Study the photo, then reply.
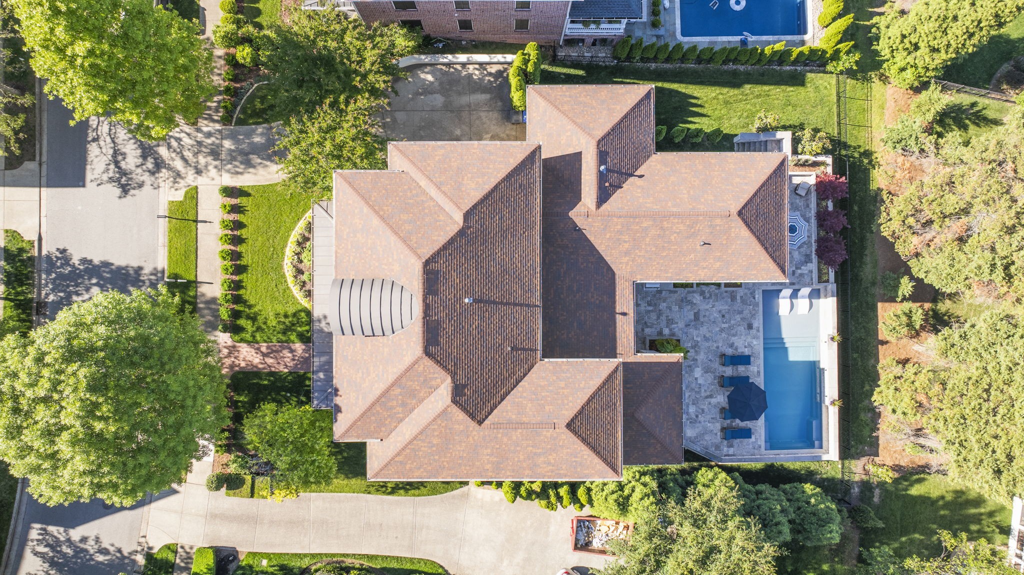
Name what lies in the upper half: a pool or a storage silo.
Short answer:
pool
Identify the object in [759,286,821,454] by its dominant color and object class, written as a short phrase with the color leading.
blue swimming pool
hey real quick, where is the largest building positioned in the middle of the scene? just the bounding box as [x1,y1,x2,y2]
[312,83,791,484]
